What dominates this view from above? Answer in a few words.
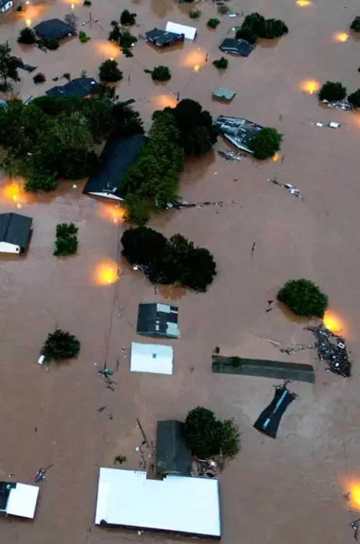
water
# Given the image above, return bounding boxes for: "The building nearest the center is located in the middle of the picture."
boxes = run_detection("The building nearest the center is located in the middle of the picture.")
[137,301,181,340]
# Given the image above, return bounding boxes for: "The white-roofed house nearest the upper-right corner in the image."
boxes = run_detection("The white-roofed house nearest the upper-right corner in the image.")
[165,22,197,44]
